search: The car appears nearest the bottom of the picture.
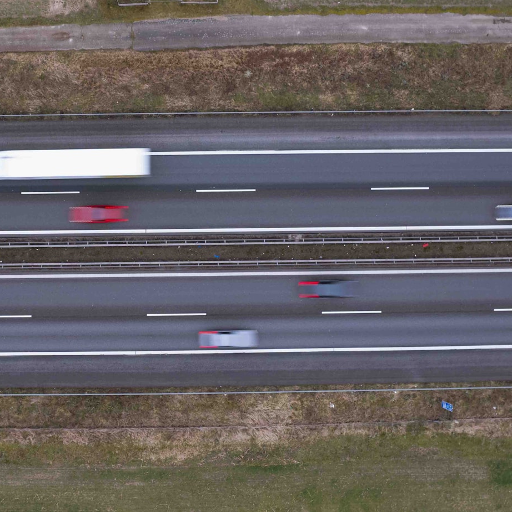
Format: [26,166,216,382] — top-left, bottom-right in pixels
[204,329,254,349]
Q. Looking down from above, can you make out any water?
No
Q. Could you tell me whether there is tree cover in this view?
No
